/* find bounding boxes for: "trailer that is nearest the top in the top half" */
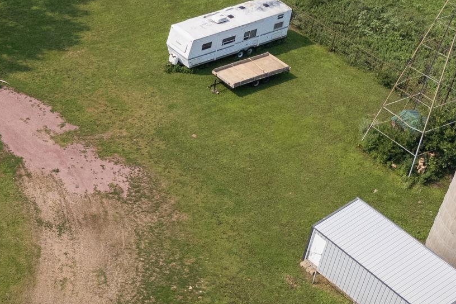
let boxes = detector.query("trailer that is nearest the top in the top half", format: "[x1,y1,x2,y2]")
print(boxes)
[164,0,292,70]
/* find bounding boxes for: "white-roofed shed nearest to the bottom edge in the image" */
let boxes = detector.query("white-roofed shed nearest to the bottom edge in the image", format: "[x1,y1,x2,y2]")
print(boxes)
[304,200,456,304]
